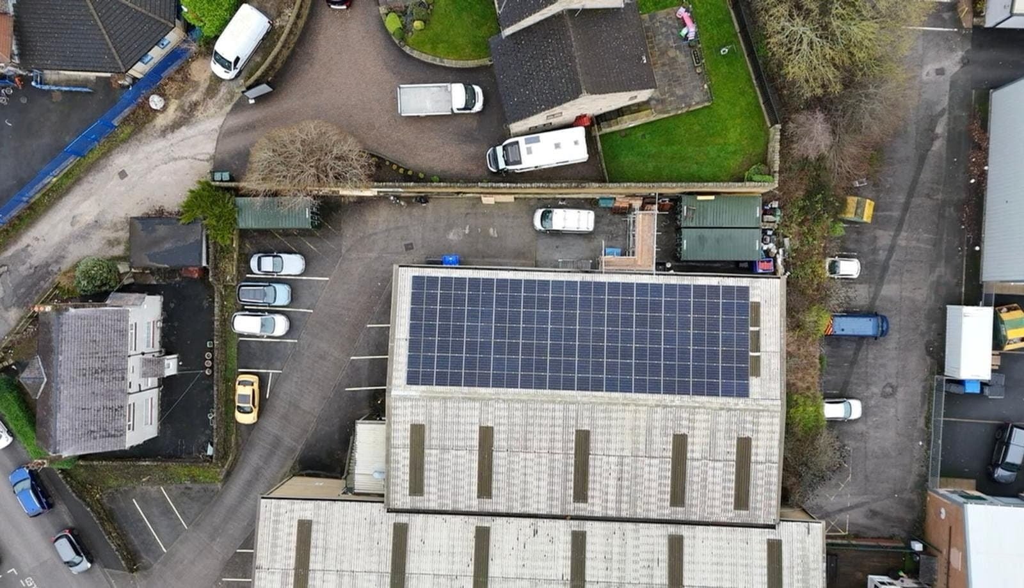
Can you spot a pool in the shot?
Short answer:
No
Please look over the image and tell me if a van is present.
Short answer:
Yes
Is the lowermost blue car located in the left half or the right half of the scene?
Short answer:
left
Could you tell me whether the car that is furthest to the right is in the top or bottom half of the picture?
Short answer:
bottom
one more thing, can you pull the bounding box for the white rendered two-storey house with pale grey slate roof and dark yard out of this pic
[19,287,181,469]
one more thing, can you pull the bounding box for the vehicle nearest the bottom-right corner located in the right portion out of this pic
[991,423,1024,482]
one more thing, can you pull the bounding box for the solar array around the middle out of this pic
[407,276,750,398]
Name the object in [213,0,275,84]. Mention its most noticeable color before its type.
white van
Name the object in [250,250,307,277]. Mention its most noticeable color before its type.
white car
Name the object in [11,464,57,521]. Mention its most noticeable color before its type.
blue car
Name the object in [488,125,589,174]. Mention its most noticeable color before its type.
white van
